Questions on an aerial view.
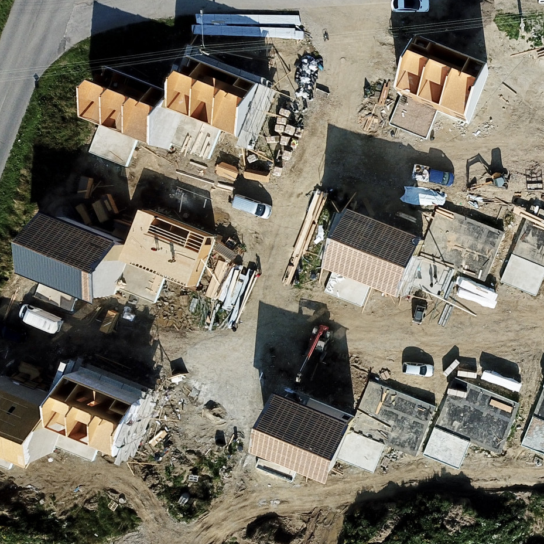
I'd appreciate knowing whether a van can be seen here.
Yes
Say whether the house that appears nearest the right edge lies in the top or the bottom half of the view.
top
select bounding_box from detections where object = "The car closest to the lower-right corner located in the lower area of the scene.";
[401,362,435,379]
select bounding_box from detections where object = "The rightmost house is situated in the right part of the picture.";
[393,37,484,121]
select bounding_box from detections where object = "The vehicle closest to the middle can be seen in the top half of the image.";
[231,192,274,220]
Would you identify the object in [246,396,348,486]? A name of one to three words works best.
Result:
house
